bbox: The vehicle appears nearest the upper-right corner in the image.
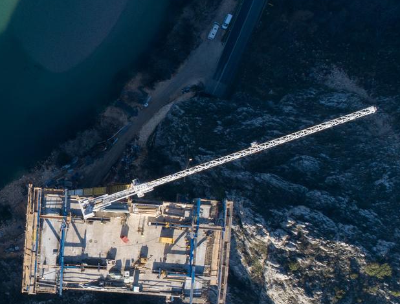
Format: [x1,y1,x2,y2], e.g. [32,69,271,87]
[222,12,236,29]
